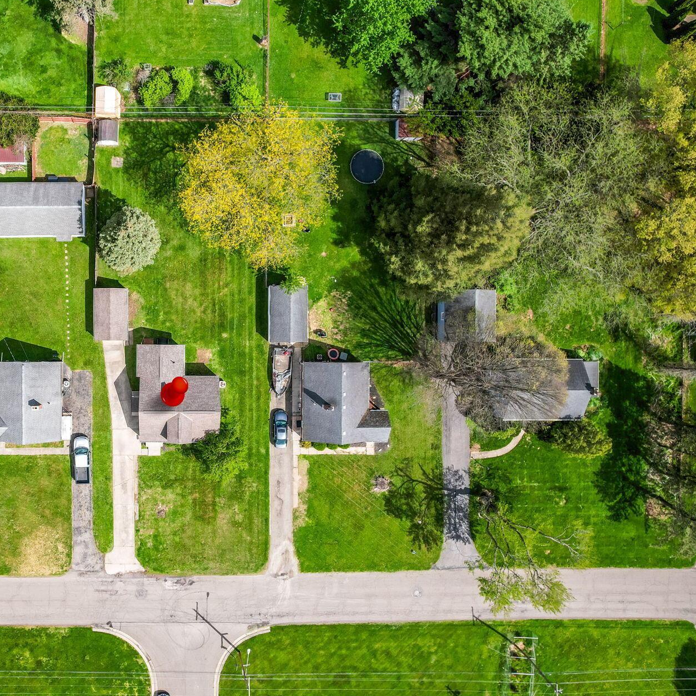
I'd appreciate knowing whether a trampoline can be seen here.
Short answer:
Yes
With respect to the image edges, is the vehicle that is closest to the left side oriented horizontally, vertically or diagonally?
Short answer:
vertically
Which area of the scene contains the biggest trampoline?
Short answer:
top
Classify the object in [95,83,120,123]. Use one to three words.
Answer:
shed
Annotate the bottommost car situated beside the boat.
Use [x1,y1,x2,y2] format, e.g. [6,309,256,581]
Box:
[271,408,291,451]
